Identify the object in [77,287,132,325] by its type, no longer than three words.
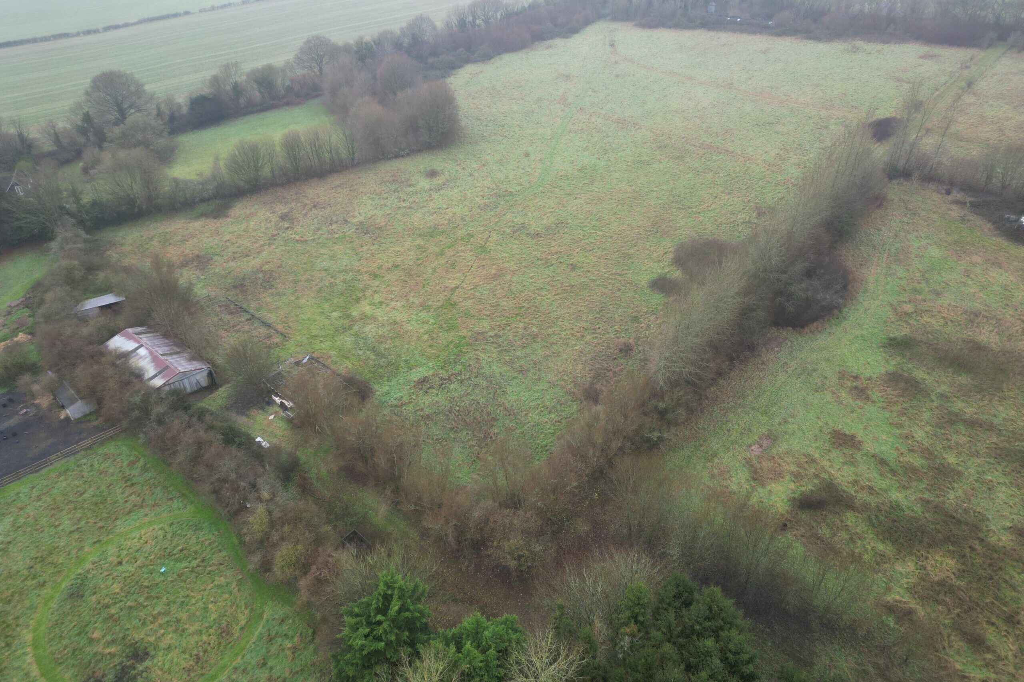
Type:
shed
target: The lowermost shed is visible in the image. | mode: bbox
[334,513,380,560]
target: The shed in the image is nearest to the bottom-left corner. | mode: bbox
[53,378,101,430]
